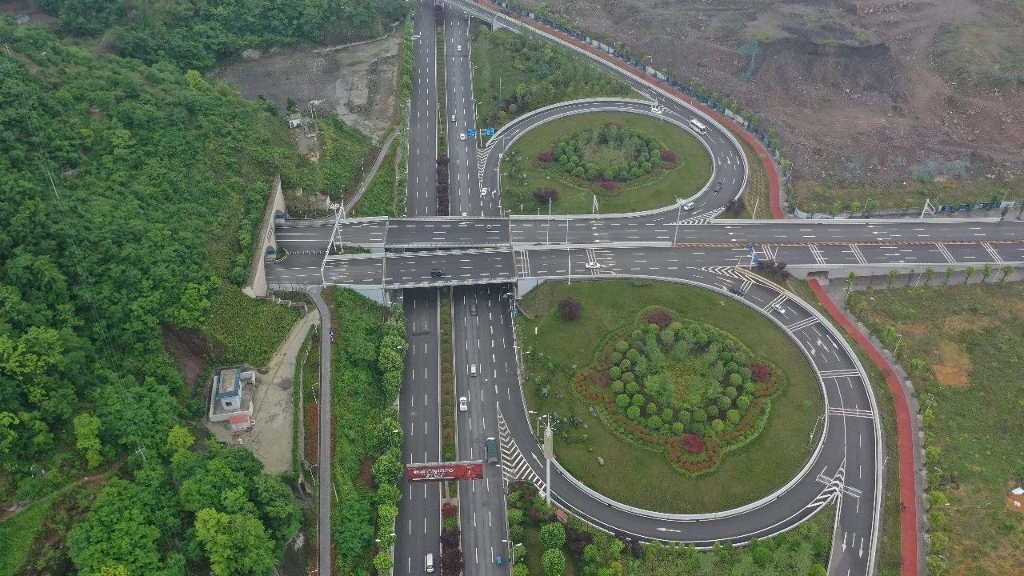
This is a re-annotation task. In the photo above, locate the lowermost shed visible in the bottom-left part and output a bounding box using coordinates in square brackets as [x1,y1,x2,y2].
[229,413,251,432]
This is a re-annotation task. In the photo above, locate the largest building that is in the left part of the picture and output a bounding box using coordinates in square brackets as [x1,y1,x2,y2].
[214,370,246,414]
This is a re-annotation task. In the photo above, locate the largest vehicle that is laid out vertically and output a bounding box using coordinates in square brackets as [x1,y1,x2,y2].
[486,434,498,466]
